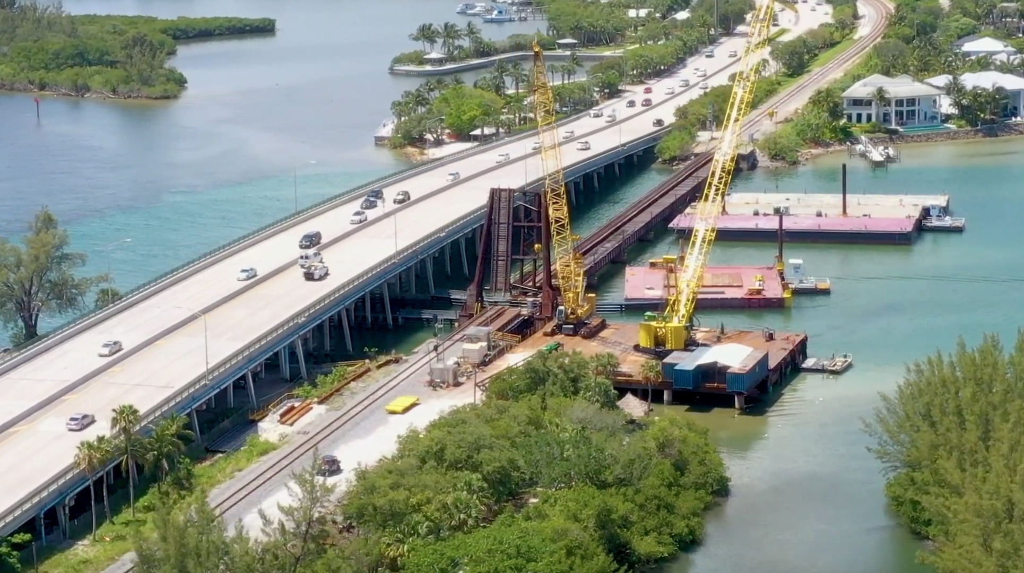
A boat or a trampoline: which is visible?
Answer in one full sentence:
Looking from above, you can make out a boat.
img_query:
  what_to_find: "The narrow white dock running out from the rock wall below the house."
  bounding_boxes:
[857,137,890,167]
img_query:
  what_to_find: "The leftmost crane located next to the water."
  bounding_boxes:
[531,36,602,335]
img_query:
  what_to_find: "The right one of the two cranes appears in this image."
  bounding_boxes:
[636,0,783,351]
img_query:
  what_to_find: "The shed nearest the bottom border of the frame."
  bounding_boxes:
[612,390,653,423]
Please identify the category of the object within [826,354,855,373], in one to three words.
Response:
boat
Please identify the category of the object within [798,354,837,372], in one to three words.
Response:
pier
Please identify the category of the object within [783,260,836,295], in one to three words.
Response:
boat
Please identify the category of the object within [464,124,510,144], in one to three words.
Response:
building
